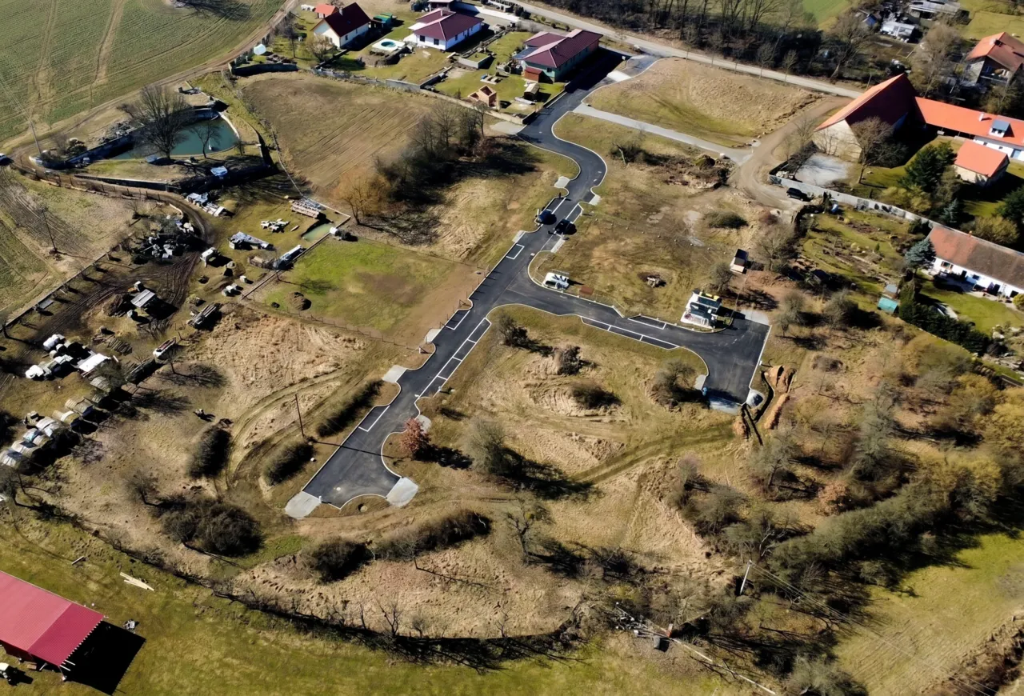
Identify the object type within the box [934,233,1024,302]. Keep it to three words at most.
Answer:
house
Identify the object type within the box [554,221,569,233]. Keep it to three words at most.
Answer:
vehicle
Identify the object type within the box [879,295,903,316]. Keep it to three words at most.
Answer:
shed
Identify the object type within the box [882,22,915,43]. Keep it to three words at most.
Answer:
greenhouse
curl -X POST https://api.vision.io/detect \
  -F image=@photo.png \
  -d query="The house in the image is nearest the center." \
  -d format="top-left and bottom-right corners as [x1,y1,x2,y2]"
[679,285,722,329]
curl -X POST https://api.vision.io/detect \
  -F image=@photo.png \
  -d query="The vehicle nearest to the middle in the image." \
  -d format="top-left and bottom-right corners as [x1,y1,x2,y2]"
[543,272,568,287]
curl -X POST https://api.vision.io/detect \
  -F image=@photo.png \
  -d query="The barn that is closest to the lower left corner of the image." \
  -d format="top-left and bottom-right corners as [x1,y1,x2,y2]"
[0,571,108,679]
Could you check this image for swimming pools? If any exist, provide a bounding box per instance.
[371,36,406,54]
